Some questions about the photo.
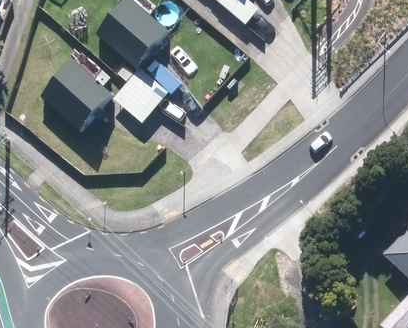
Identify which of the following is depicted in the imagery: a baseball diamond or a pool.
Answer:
pool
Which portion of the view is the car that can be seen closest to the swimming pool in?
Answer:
top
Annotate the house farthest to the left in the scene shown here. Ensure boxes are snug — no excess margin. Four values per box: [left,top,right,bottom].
[40,59,113,132]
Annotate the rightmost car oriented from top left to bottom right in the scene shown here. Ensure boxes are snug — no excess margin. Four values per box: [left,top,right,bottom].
[250,12,280,41]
